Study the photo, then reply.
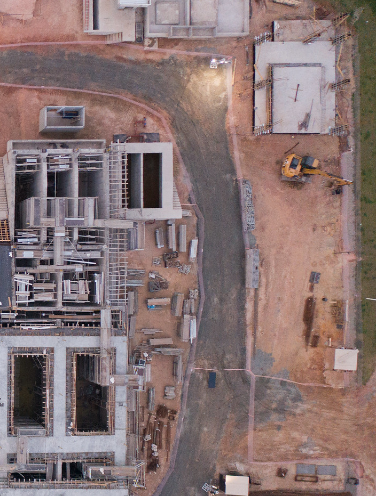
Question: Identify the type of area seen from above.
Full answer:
It's an industrial area.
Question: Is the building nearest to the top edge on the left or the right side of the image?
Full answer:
It is on the right.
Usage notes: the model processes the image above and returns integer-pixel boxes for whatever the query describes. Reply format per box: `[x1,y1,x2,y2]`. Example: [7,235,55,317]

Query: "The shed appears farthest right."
[322,348,358,370]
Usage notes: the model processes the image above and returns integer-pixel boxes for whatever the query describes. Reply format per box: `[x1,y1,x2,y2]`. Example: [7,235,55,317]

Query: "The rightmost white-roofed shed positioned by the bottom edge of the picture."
[215,471,249,496]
